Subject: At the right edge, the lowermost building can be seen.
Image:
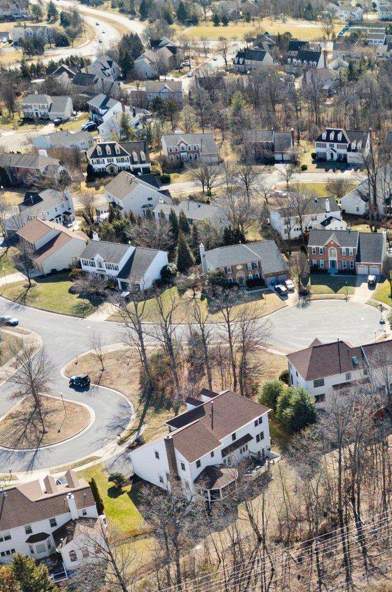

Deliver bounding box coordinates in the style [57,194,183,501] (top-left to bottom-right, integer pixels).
[289,325,392,414]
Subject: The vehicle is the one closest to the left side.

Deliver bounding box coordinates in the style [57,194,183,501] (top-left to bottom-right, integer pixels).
[0,315,19,327]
